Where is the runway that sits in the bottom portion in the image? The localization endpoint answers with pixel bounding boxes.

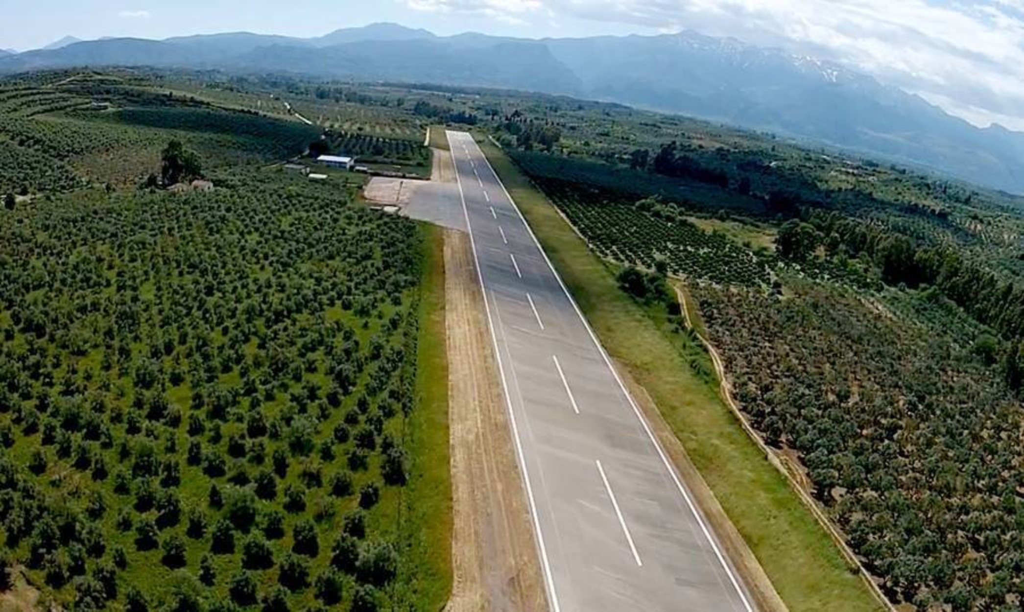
[447,131,757,612]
